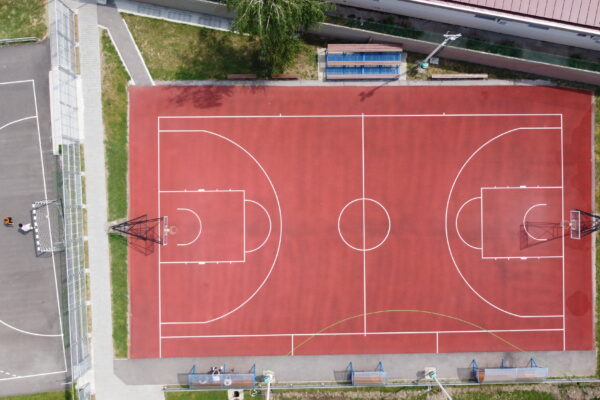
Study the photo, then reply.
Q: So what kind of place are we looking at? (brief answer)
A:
sports ground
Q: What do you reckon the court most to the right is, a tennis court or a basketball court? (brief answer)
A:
basketball court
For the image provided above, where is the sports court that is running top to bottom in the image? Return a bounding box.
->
[0,37,90,396]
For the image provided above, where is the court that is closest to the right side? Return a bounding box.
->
[128,86,594,365]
